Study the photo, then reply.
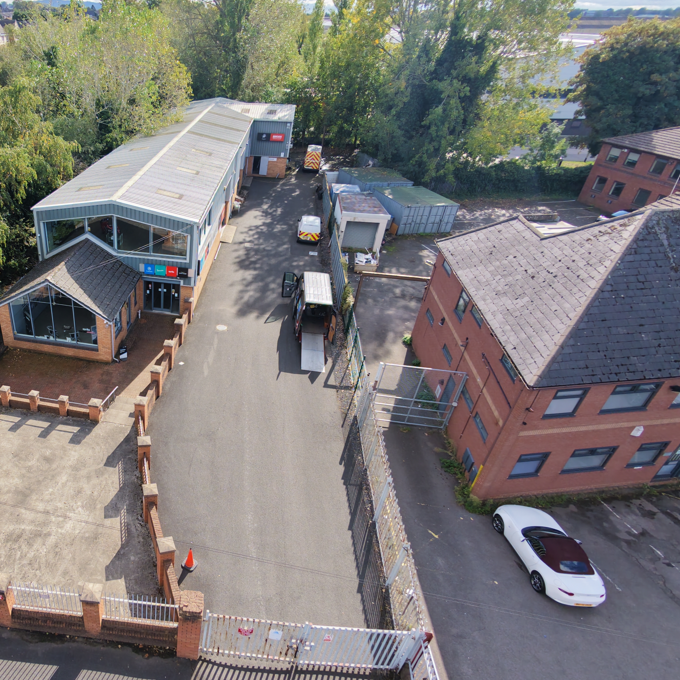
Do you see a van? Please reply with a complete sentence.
Yes, a van appears in the view.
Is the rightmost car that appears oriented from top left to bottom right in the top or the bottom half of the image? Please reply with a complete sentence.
The rightmost car that appears oriented from top left to bottom right is in the bottom half of the image.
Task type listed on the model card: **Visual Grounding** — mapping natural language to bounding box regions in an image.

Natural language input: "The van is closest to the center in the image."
[276,278,346,376]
